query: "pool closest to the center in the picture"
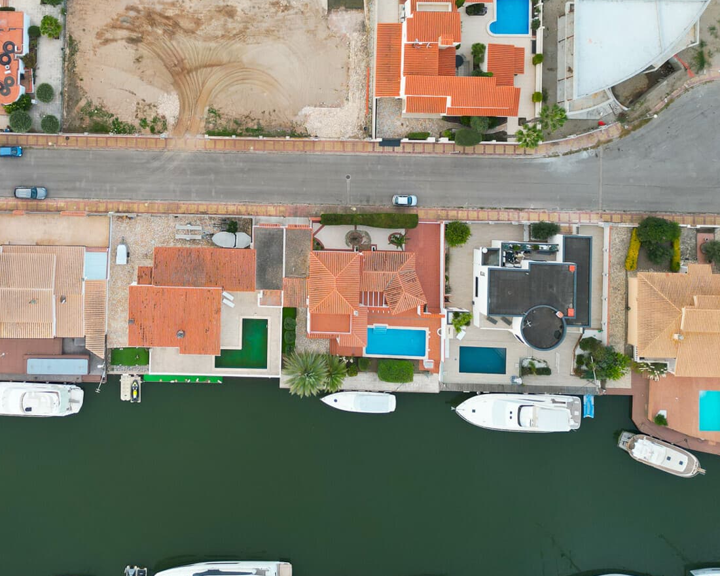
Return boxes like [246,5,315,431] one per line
[363,323,428,359]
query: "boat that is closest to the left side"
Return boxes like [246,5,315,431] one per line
[0,381,86,416]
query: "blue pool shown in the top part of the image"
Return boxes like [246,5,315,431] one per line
[488,0,530,36]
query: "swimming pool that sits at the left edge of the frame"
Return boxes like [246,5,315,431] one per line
[26,359,89,375]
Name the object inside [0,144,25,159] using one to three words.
car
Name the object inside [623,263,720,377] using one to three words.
house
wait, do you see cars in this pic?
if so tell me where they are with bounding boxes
[0,144,25,159]
[391,192,416,208]
[15,183,48,200]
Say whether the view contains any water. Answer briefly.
Yes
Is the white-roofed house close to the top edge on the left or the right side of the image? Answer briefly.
right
